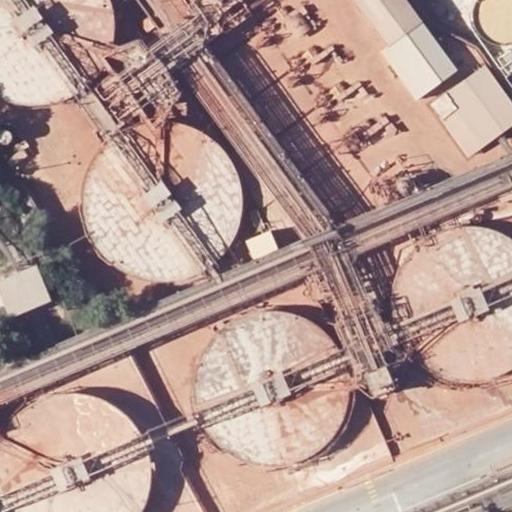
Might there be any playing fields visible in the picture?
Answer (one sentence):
No, there is no playing field in the image.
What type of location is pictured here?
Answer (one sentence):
The area seen from above is an industrial area.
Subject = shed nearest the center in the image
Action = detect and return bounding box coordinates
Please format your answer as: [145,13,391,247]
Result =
[246,231,278,260]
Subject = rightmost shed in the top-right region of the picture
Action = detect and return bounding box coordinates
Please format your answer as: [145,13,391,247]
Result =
[430,66,512,158]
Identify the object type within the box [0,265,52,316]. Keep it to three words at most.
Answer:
house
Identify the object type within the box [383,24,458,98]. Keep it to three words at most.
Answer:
building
